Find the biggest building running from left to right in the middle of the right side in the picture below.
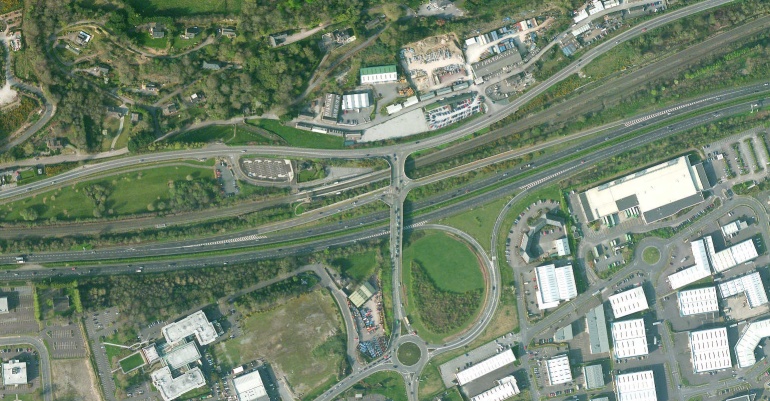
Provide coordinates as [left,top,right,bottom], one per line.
[577,155,703,225]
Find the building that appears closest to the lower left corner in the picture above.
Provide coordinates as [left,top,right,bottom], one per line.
[2,360,27,386]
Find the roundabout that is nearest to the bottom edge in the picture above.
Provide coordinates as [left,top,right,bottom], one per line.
[391,336,427,372]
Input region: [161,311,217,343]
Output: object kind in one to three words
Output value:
building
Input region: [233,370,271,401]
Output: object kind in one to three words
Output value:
building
